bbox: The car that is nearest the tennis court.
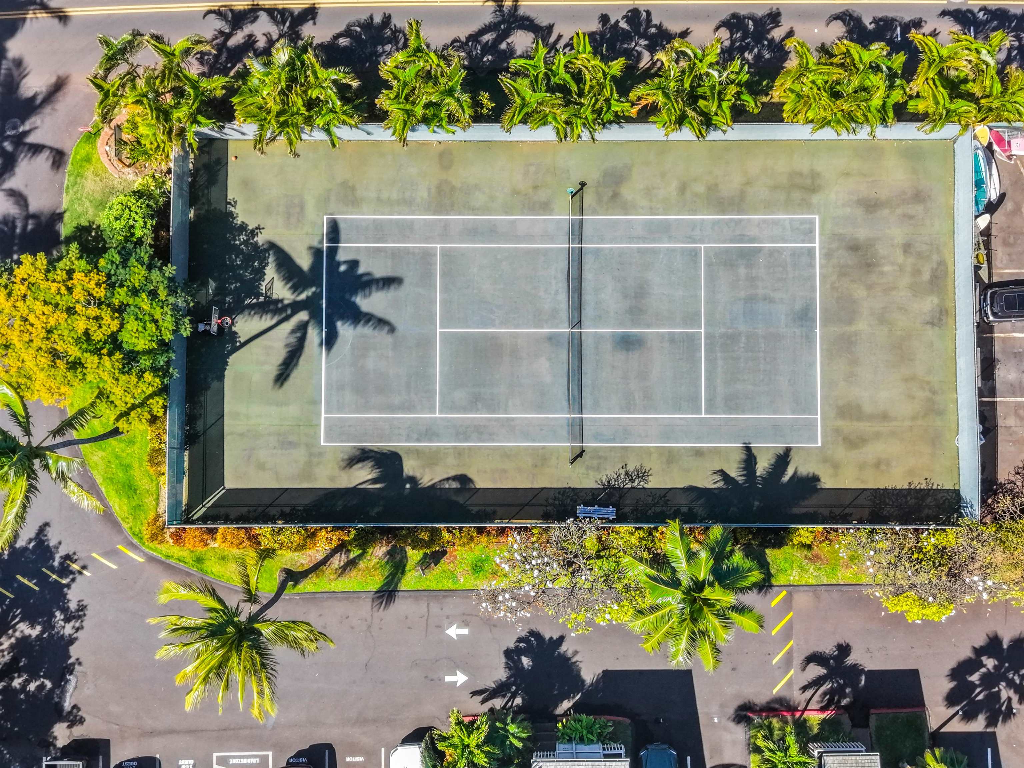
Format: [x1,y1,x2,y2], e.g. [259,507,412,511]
[979,281,1024,324]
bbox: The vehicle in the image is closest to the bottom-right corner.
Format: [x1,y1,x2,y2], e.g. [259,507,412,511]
[638,742,677,768]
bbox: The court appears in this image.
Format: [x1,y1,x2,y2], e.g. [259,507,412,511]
[185,140,962,521]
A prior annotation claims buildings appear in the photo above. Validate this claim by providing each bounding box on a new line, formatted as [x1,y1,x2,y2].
[813,742,883,768]
[530,742,631,768]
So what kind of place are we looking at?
sports ground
